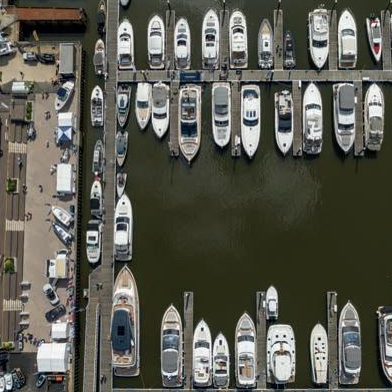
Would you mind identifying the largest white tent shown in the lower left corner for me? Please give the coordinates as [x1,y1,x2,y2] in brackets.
[37,341,69,371]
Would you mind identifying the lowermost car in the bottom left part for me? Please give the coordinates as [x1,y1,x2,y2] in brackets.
[45,303,68,321]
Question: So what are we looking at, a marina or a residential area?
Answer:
marina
